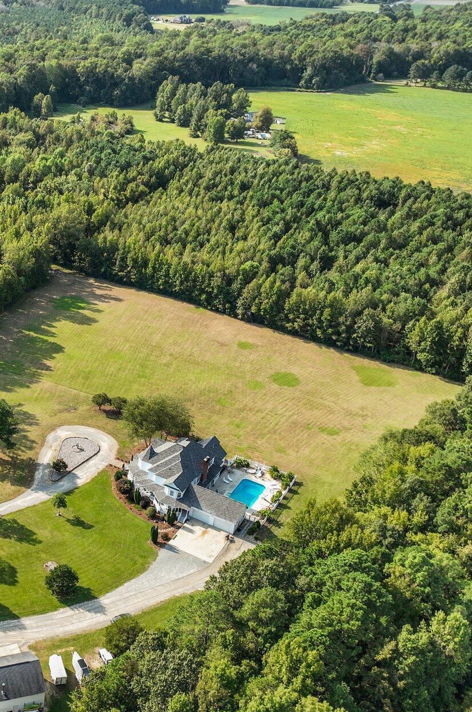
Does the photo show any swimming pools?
Yes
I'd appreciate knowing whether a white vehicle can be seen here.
Yes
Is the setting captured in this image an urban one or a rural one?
rural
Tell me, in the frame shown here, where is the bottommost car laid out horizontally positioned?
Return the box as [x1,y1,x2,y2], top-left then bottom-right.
[109,609,135,625]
